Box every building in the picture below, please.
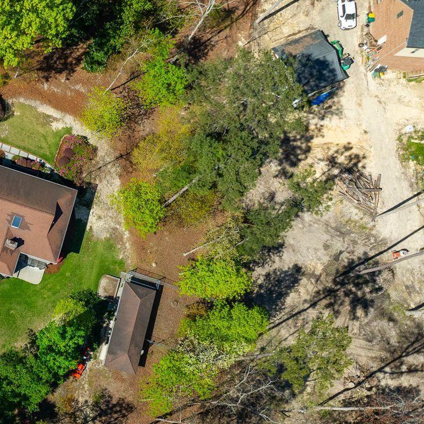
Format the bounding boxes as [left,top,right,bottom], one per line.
[263,30,347,101]
[101,282,156,376]
[0,165,78,278]
[369,0,424,72]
